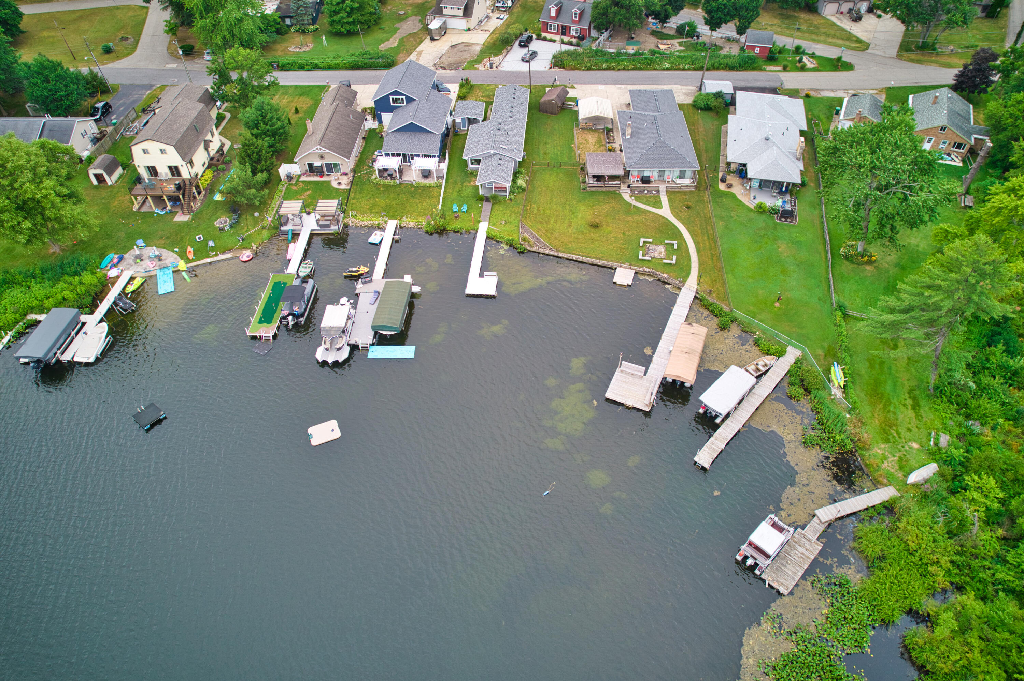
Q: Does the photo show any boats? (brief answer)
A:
Yes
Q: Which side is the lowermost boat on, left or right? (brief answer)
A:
right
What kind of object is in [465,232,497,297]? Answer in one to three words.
pier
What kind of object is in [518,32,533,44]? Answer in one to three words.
vehicle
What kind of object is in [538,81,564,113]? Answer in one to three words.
shed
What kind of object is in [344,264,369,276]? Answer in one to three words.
boat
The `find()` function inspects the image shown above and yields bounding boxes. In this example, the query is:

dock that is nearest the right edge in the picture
[814,486,900,523]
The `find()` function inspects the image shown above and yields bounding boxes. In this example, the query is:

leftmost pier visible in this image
[59,273,131,365]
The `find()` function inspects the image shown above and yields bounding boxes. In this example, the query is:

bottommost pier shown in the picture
[760,517,829,599]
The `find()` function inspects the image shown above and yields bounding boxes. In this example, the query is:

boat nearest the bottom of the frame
[741,512,794,573]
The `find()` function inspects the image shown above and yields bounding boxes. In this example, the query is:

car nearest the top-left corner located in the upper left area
[89,100,111,119]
